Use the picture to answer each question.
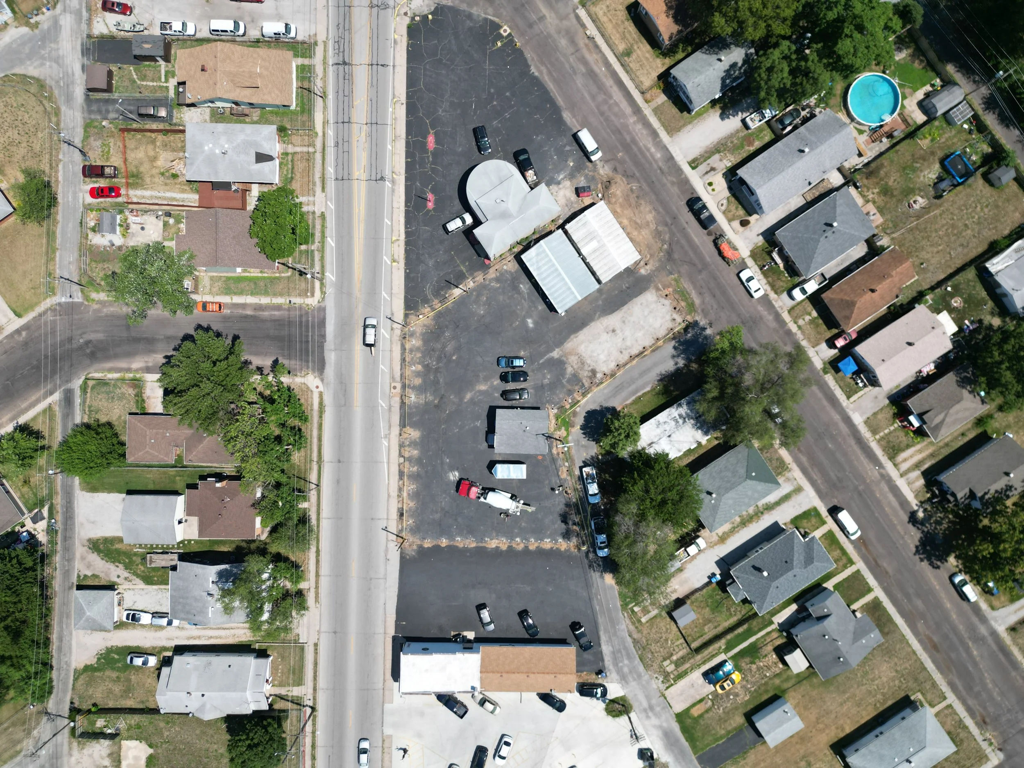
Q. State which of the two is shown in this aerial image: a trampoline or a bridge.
trampoline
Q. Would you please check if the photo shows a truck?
Yes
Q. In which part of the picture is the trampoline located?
top right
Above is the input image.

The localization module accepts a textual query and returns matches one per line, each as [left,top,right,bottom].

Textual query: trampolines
[942,151,975,183]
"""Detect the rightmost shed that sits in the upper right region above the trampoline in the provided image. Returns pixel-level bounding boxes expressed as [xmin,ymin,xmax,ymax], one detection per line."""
[921,83,965,121]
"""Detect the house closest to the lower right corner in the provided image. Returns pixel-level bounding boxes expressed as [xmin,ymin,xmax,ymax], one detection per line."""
[842,700,957,768]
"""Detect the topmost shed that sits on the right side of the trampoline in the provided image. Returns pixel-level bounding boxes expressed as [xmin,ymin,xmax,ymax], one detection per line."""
[982,164,1019,193]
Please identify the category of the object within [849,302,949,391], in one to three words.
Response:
house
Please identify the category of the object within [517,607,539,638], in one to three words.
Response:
car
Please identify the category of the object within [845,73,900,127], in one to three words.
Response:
swimming pool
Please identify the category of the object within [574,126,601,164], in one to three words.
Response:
vehicle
